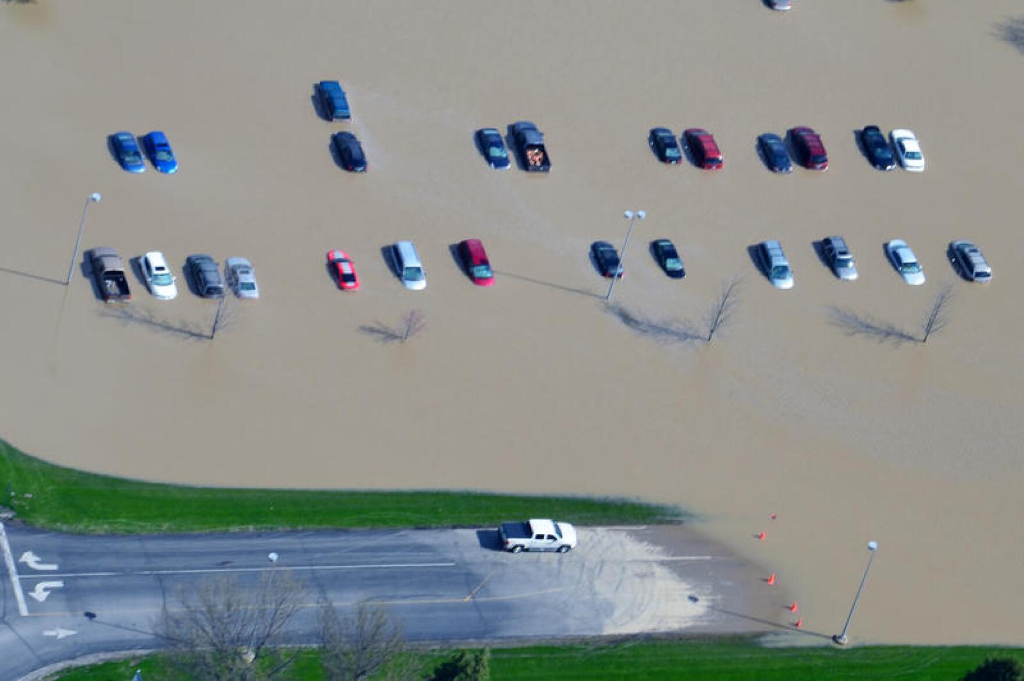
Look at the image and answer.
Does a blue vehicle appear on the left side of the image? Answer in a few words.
Yes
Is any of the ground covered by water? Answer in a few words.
Yes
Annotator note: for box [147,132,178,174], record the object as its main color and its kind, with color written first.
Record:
blue car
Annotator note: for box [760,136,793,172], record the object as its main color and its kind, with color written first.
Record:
blue car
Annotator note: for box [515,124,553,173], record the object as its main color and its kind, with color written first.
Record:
blue truck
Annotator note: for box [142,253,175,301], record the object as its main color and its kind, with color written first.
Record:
white car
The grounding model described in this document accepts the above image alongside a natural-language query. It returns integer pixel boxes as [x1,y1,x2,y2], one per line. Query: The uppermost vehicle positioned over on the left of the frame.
[320,83,354,122]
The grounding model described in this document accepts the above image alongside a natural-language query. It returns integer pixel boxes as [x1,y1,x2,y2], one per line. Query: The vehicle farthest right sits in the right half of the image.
[955,242,992,283]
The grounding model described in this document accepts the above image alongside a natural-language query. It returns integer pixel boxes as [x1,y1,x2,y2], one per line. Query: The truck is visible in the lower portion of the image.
[500,520,578,553]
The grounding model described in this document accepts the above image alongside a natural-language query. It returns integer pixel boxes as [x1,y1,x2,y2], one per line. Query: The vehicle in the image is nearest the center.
[461,237,497,286]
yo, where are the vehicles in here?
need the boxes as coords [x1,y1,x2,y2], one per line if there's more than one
[654,239,686,280]
[147,132,178,174]
[339,134,372,171]
[96,250,134,303]
[479,128,511,170]
[500,520,578,553]
[114,130,145,173]
[228,259,260,298]
[824,238,858,280]
[757,240,794,289]
[769,0,792,10]
[192,255,226,297]
[955,242,992,283]
[861,129,895,171]
[890,135,924,171]
[320,83,354,122]
[892,243,926,286]
[690,130,725,169]
[652,129,684,163]
[593,243,625,278]
[391,239,428,290]
[515,124,553,173]
[330,252,361,290]
[760,136,793,172]
[795,131,830,170]
[142,253,175,301]
[461,237,497,286]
